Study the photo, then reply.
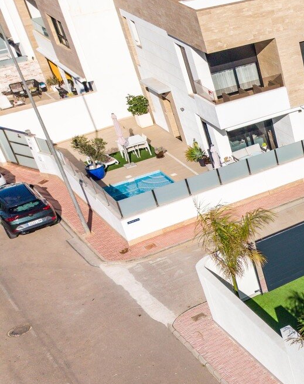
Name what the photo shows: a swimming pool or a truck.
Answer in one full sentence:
There is a swimming pool in the scene.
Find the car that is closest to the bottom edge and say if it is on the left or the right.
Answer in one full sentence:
The car that is closest to the bottom edge appears in the left half of the scene.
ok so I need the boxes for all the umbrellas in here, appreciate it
[205,123,228,169]
[108,113,139,169]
